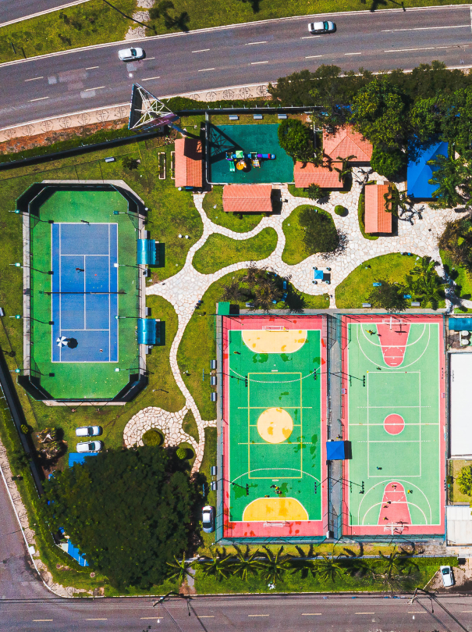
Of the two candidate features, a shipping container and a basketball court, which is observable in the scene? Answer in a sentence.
This aerial view contains a basketball court.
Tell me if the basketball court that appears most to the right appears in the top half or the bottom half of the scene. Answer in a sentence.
The bottom half of the photo is where the basketball court that appears most to the right is.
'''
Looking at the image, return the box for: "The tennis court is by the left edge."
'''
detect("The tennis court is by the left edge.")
[23,179,146,406]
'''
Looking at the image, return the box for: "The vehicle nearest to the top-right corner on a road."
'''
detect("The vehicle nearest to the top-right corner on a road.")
[308,20,336,34]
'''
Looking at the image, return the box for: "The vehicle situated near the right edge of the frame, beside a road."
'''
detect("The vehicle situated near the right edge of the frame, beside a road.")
[441,564,456,589]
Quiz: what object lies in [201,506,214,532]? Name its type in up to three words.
vehicle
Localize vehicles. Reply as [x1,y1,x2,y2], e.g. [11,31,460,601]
[201,506,214,532]
[76,425,102,437]
[308,20,336,34]
[441,564,456,589]
[117,45,146,62]
[75,440,104,453]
